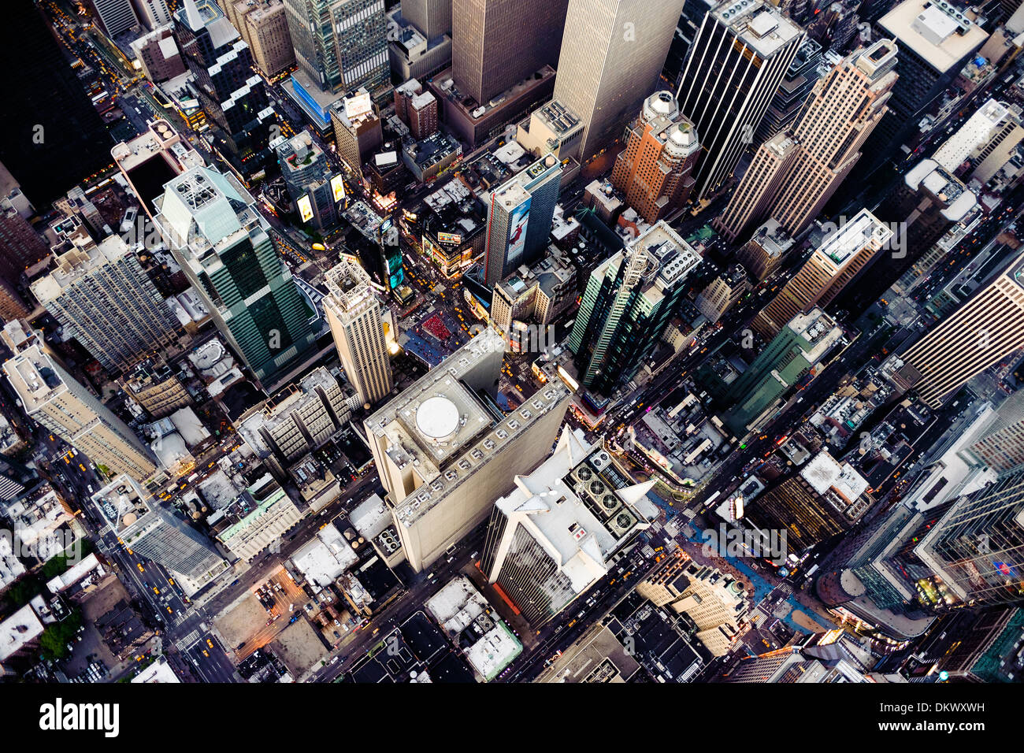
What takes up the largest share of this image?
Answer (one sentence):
What you mostly see from above here is buildings.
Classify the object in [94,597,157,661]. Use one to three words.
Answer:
building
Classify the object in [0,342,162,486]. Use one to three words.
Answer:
building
